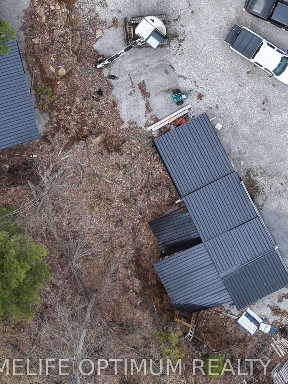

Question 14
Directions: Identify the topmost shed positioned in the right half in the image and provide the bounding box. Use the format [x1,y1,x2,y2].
[153,113,237,197]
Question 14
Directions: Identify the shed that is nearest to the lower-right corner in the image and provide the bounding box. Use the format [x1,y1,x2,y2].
[223,249,288,310]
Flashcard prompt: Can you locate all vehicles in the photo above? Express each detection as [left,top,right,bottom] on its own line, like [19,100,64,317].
[97,18,166,66]
[228,26,288,80]
[243,0,288,30]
